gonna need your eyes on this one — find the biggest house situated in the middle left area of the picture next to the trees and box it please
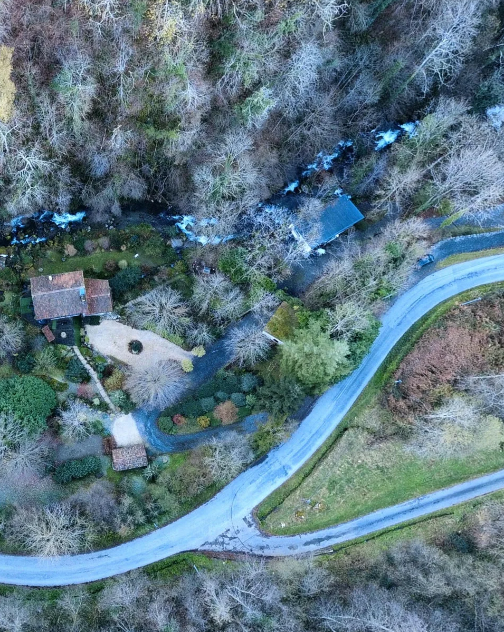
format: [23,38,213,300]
[30,270,113,321]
